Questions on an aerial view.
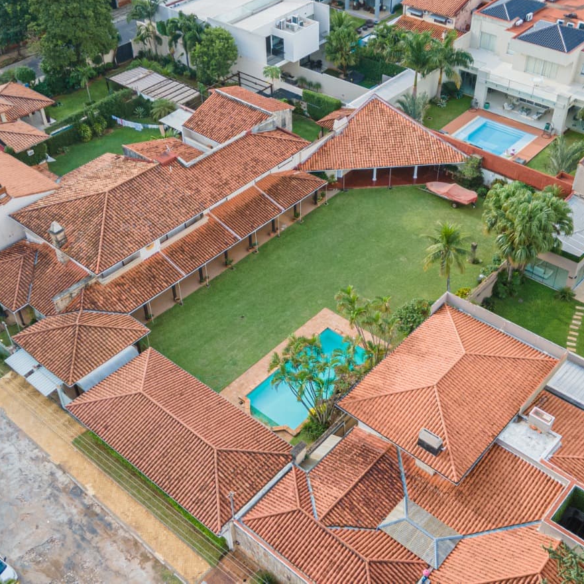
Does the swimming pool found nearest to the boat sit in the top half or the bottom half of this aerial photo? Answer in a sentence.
You can find the swimming pool found nearest to the boat in the top half.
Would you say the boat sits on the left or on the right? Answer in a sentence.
It is on the right.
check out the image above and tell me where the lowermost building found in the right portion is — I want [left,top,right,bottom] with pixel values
[240,301,584,584]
